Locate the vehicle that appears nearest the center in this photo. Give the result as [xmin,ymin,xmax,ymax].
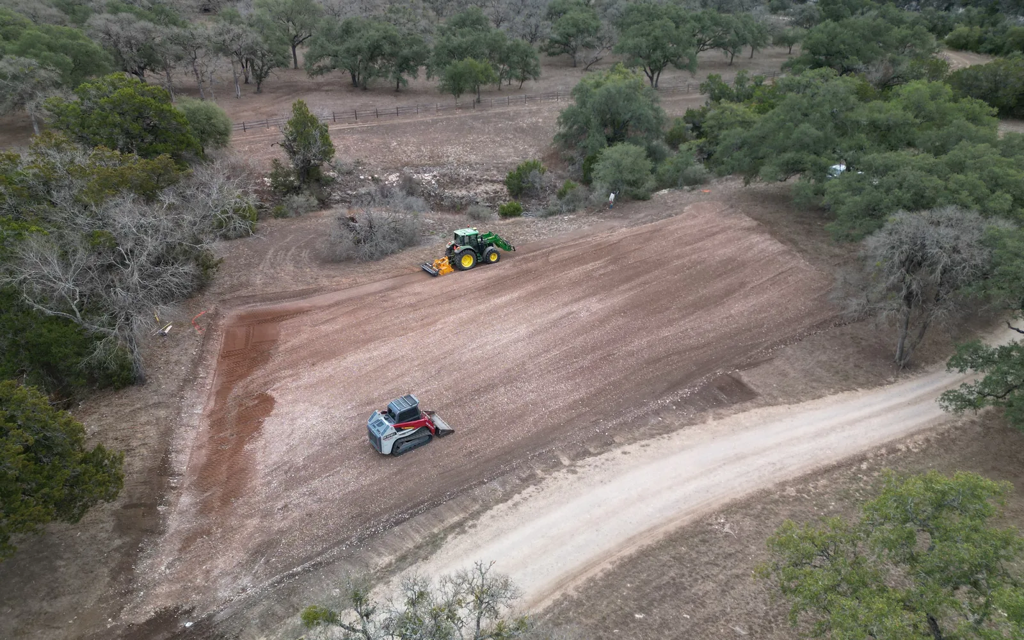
[443,226,512,271]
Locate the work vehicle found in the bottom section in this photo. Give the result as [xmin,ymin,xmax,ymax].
[365,391,453,456]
